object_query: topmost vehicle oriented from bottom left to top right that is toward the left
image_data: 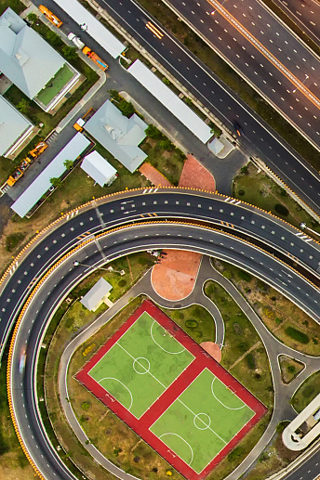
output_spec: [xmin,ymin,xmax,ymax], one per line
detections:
[73,109,91,128]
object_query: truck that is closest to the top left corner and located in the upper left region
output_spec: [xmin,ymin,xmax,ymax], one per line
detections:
[37,3,59,25]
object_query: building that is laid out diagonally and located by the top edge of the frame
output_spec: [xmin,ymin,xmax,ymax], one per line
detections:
[0,1,87,115]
